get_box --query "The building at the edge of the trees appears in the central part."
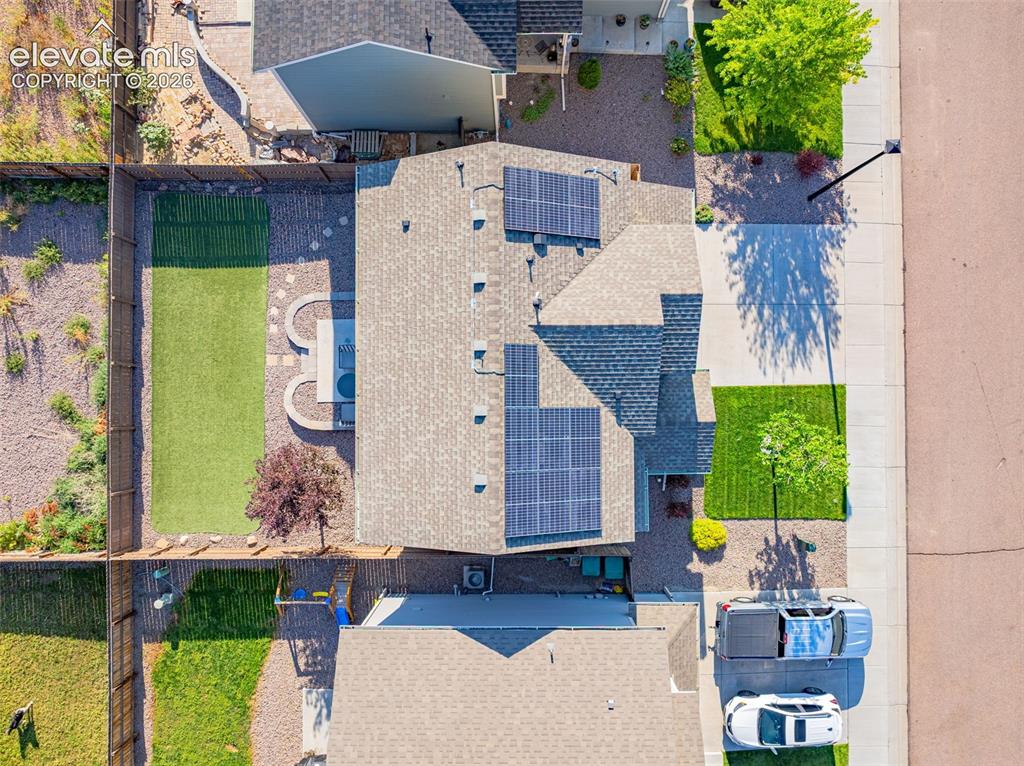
[358,143,715,554]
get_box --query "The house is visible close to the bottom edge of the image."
[328,571,704,766]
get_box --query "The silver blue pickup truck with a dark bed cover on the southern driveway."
[706,598,871,668]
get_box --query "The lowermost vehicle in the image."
[724,688,843,756]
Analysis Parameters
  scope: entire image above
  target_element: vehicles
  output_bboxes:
[706,598,871,668]
[724,688,843,756]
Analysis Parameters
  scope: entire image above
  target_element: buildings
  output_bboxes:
[253,0,665,137]
[328,571,704,766]
[358,143,715,554]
